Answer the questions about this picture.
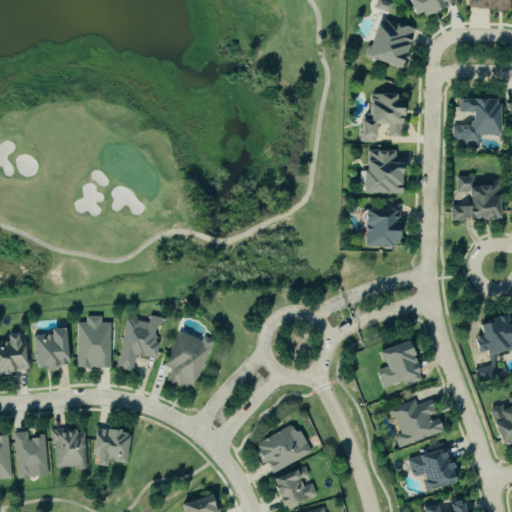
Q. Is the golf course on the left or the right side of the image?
left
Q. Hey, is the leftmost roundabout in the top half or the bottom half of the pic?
bottom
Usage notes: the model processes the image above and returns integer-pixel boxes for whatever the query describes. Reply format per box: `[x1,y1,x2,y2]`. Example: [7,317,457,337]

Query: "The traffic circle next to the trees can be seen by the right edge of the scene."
[470,238,512,294]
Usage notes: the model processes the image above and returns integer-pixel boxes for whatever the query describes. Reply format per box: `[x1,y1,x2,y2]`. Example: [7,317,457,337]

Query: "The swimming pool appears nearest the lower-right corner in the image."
[404,461,426,497]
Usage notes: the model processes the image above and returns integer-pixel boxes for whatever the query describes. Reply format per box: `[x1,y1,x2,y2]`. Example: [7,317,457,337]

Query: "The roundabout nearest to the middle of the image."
[258,303,327,384]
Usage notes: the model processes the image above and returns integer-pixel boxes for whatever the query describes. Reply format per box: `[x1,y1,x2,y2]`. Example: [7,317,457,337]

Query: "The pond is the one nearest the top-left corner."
[0,0,248,89]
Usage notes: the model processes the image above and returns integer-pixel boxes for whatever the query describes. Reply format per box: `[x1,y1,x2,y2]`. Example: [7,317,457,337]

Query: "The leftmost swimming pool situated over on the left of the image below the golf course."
[31,318,58,336]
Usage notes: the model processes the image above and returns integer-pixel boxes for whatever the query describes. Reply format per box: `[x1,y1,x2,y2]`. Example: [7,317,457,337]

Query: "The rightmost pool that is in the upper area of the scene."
[480,134,502,152]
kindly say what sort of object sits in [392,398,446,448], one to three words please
house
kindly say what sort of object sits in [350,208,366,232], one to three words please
swimming pool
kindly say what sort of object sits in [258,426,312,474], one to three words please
house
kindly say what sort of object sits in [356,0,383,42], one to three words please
swimming pool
